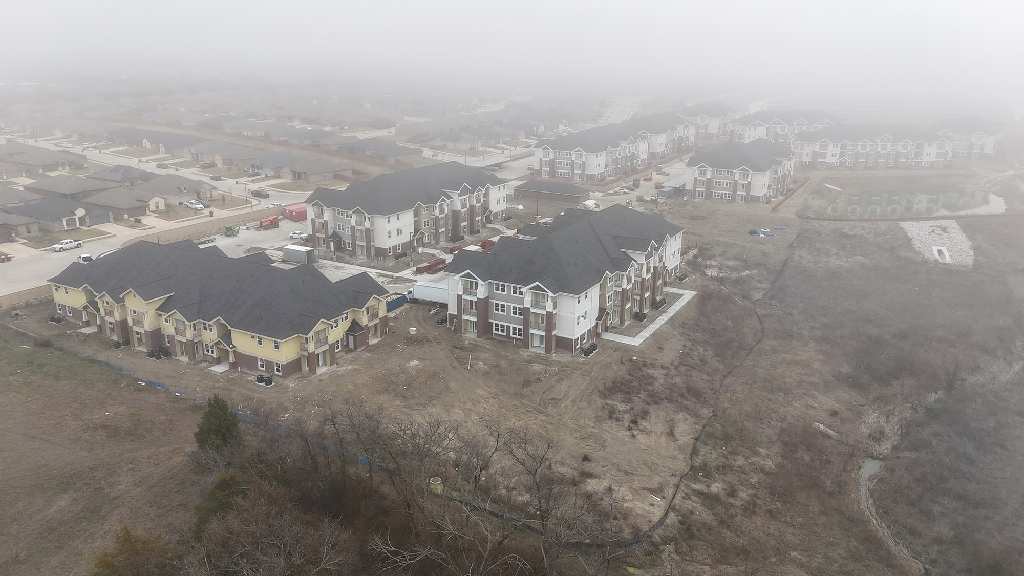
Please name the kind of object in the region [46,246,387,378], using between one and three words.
building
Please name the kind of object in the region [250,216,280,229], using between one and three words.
vehicle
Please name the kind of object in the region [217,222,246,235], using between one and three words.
vehicle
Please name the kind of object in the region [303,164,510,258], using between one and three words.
building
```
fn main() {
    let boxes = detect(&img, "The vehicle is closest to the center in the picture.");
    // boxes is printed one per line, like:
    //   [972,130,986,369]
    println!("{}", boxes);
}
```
[406,278,447,305]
